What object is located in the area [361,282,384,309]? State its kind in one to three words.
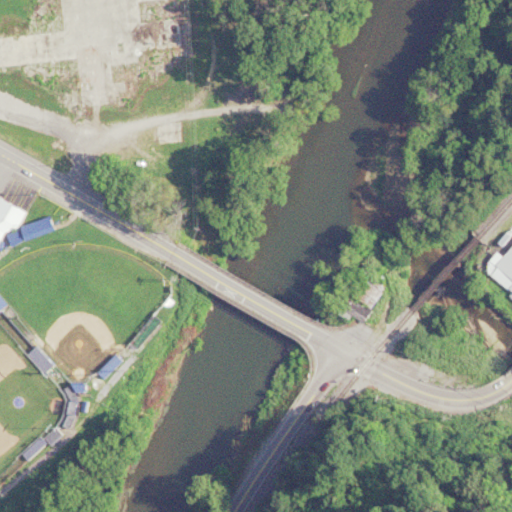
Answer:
house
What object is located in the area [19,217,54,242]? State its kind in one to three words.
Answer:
shed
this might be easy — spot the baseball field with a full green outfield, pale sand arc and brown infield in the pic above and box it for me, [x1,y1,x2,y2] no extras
[0,244,172,384]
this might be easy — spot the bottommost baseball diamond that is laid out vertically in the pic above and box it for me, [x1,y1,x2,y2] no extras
[0,321,64,476]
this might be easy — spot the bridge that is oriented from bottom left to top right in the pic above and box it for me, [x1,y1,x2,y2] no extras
[405,231,482,312]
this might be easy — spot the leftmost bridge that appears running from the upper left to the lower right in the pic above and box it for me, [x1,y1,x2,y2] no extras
[190,257,324,350]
